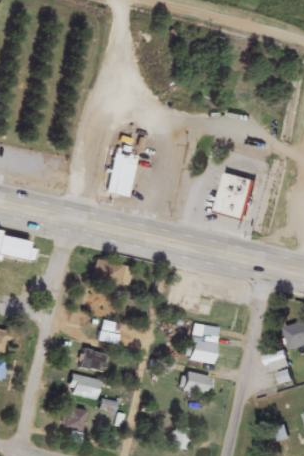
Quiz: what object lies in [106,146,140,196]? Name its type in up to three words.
building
